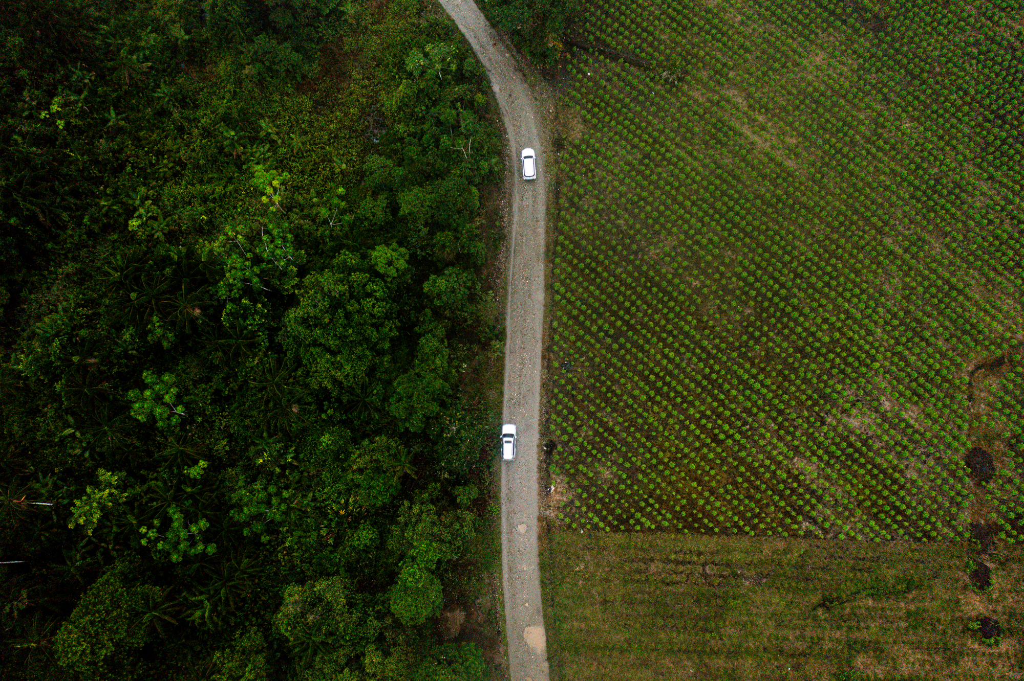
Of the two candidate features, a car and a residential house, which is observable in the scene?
car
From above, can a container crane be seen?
No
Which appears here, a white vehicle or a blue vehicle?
white vehicle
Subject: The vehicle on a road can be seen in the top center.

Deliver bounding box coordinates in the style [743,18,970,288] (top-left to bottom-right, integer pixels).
[521,148,537,181]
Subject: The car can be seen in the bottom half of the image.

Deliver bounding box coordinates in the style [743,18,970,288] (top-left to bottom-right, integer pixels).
[501,424,517,461]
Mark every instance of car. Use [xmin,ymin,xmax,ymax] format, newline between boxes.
[501,424,517,461]
[521,148,537,181]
